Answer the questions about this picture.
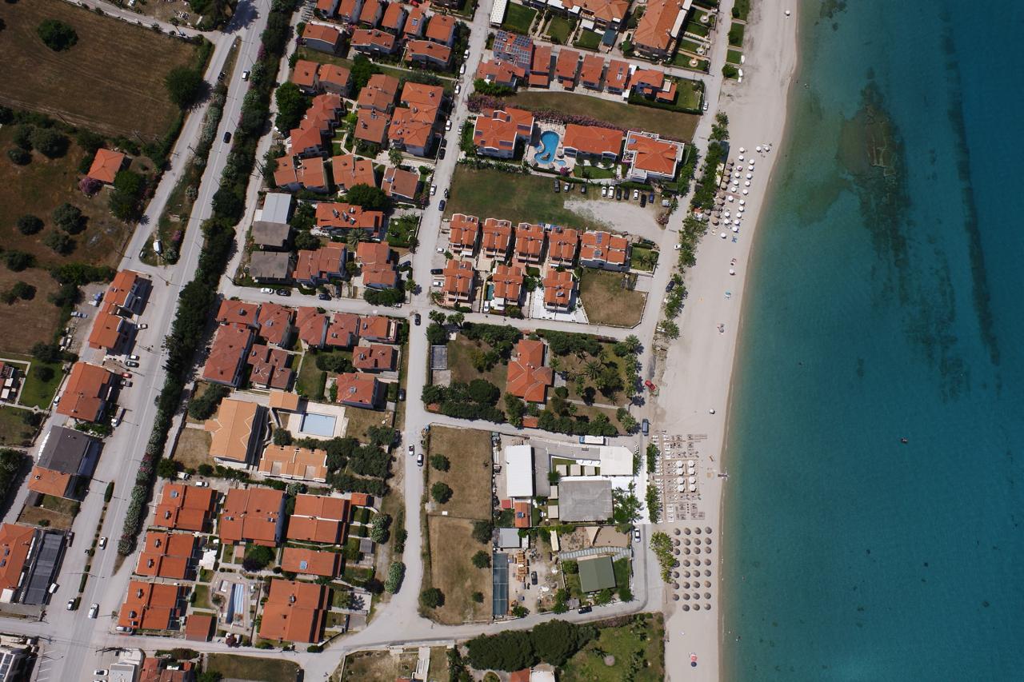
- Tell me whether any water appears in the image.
Yes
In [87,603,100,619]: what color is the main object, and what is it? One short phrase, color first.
white vehicle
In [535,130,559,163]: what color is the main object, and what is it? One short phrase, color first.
blue swimming pool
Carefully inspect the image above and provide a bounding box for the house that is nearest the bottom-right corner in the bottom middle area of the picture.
[578,557,615,593]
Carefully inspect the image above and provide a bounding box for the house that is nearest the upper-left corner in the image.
[88,149,131,186]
